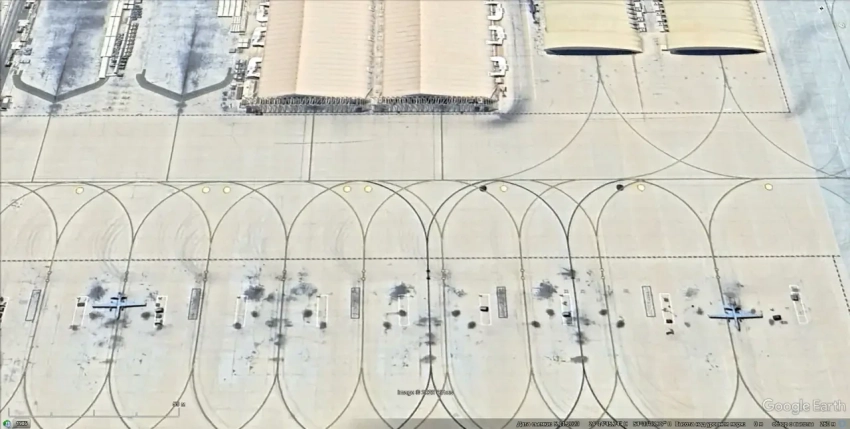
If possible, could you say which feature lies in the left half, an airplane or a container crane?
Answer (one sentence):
What appears in the left half is an airplane.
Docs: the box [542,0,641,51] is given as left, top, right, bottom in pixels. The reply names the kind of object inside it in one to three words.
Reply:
hangar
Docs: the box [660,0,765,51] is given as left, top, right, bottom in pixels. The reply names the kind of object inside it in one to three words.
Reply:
hangar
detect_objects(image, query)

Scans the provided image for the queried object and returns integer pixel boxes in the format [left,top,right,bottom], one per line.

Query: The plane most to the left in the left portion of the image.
[90,290,147,319]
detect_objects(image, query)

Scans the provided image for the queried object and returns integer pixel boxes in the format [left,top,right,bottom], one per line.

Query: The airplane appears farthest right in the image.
[709,303,764,331]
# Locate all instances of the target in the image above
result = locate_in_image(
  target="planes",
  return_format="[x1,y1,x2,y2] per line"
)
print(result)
[709,303,764,331]
[90,290,147,319]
